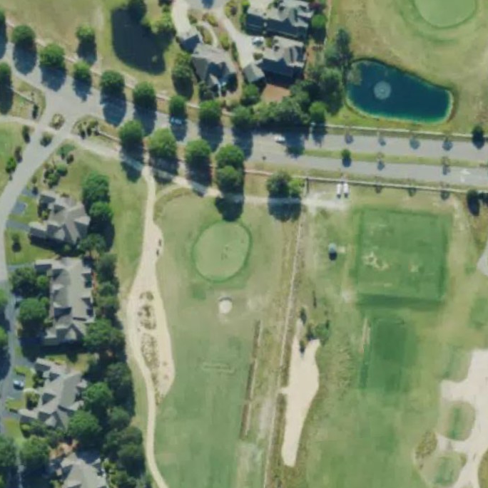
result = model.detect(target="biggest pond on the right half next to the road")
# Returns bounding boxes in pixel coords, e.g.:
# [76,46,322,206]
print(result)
[343,57,455,126]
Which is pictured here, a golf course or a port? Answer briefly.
golf course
